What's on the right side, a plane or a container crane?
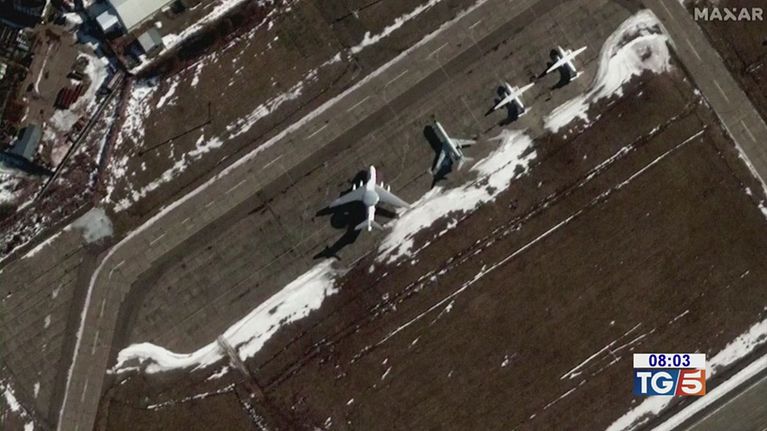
plane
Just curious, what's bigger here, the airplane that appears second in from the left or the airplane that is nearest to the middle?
the airplane that is nearest to the middle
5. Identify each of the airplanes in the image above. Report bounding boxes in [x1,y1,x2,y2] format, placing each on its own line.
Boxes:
[494,80,536,115]
[434,124,479,170]
[330,166,411,230]
[545,44,588,78]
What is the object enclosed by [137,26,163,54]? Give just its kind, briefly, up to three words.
house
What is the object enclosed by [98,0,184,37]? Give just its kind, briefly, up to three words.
hangar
